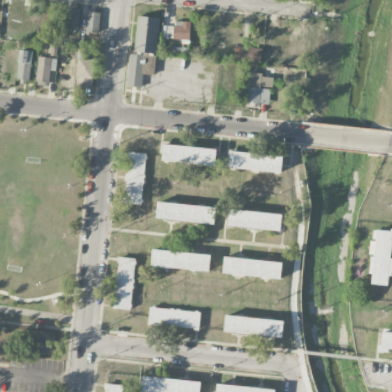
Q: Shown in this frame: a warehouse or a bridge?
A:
bridge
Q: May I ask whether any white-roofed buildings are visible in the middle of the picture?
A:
Yes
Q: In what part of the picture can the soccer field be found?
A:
left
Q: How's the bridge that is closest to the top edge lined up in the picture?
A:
from side to side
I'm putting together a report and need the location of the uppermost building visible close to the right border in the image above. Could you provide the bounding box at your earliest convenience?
[368,230,392,286]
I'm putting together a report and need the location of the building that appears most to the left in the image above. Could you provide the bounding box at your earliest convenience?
[17,50,32,84]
